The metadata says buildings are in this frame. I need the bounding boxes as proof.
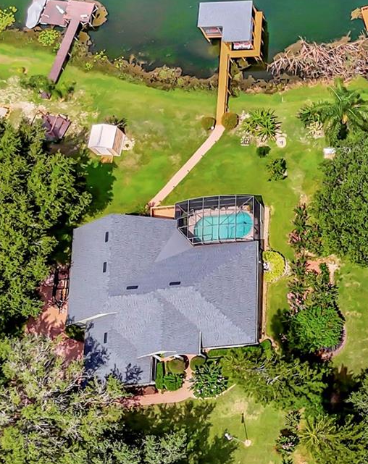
[86,121,128,169]
[198,0,266,128]
[67,214,263,385]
